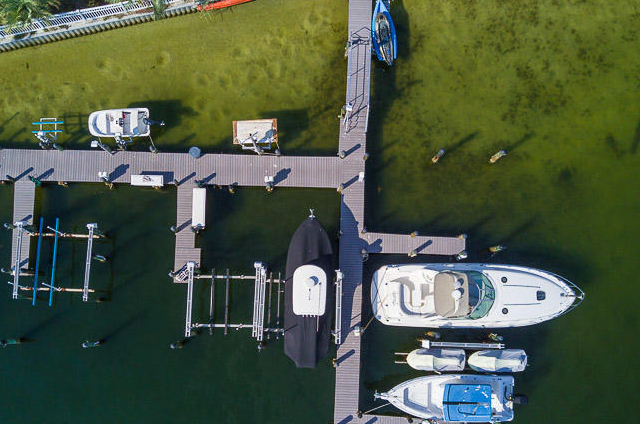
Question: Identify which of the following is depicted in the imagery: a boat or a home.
boat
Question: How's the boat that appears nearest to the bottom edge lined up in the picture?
horizontally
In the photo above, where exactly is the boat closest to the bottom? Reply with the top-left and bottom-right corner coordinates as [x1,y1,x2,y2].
[376,373,529,422]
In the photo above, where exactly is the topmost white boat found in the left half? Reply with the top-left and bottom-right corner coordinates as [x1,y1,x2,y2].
[88,108,165,139]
